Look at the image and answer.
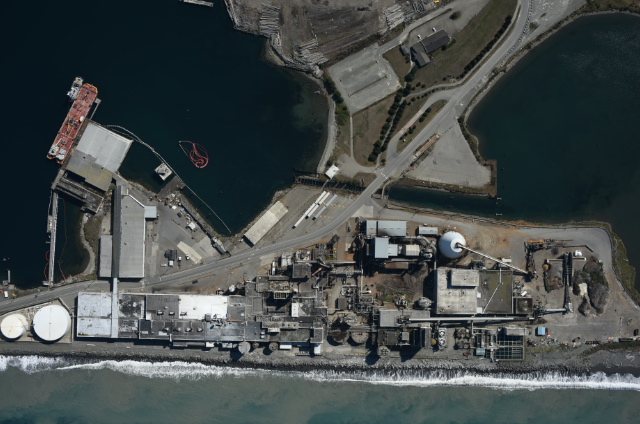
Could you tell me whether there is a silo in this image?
Yes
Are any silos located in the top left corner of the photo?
No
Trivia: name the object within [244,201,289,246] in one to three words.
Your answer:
shed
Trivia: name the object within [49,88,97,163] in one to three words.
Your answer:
ship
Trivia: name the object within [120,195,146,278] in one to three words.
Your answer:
shed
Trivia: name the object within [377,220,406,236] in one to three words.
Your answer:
house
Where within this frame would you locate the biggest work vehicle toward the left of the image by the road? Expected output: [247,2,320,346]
[211,236,228,256]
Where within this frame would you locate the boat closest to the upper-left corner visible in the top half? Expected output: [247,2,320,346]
[71,77,85,99]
